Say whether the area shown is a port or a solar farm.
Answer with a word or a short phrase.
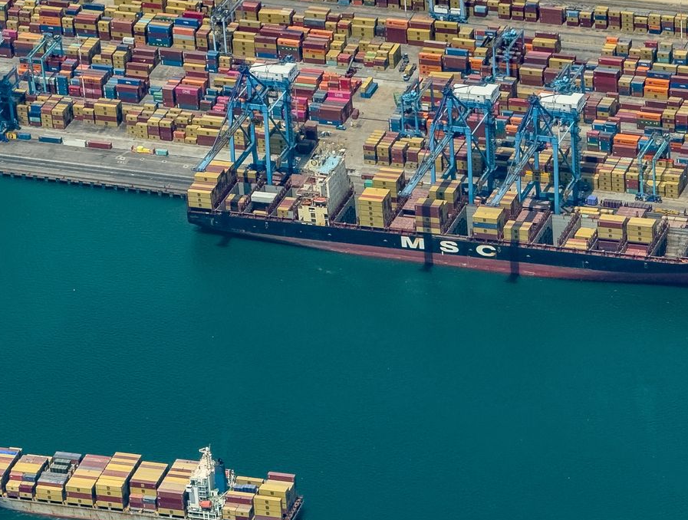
port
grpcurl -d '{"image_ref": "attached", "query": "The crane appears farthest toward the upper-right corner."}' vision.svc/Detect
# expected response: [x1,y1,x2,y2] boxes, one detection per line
[545,64,578,90]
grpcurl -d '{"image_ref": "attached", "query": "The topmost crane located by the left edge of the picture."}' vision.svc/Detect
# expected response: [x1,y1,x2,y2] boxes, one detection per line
[28,30,66,93]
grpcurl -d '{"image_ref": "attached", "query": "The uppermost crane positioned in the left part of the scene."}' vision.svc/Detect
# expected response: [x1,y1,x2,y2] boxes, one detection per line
[210,0,247,53]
